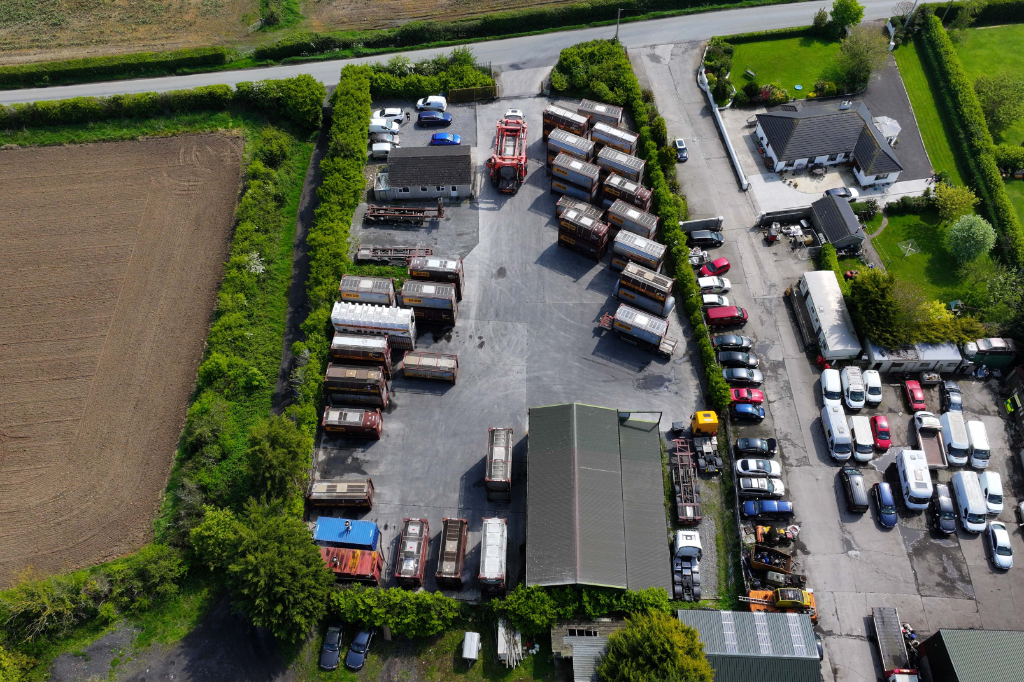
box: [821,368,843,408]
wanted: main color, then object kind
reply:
white vehicle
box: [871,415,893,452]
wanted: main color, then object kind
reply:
red car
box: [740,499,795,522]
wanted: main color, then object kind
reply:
blue truck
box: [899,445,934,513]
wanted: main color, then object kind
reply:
white camper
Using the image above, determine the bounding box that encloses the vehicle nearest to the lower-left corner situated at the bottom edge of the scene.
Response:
[318,622,345,673]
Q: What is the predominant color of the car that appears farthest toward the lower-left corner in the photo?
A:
black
